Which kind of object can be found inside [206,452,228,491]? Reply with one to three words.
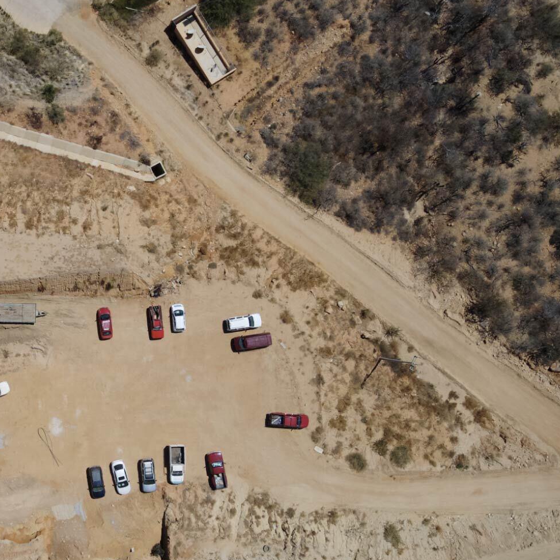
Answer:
truck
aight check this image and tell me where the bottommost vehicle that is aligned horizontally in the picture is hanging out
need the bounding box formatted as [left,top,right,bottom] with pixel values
[266,412,309,430]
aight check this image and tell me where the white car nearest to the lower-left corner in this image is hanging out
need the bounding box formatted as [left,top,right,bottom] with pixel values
[110,460,131,495]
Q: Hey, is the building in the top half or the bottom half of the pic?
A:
top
